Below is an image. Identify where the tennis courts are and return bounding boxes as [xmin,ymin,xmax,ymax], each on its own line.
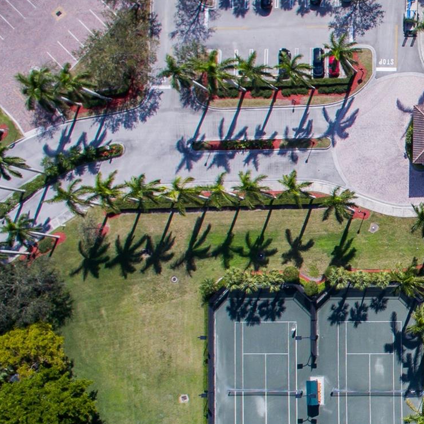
[319,286,422,424]
[215,286,319,424]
